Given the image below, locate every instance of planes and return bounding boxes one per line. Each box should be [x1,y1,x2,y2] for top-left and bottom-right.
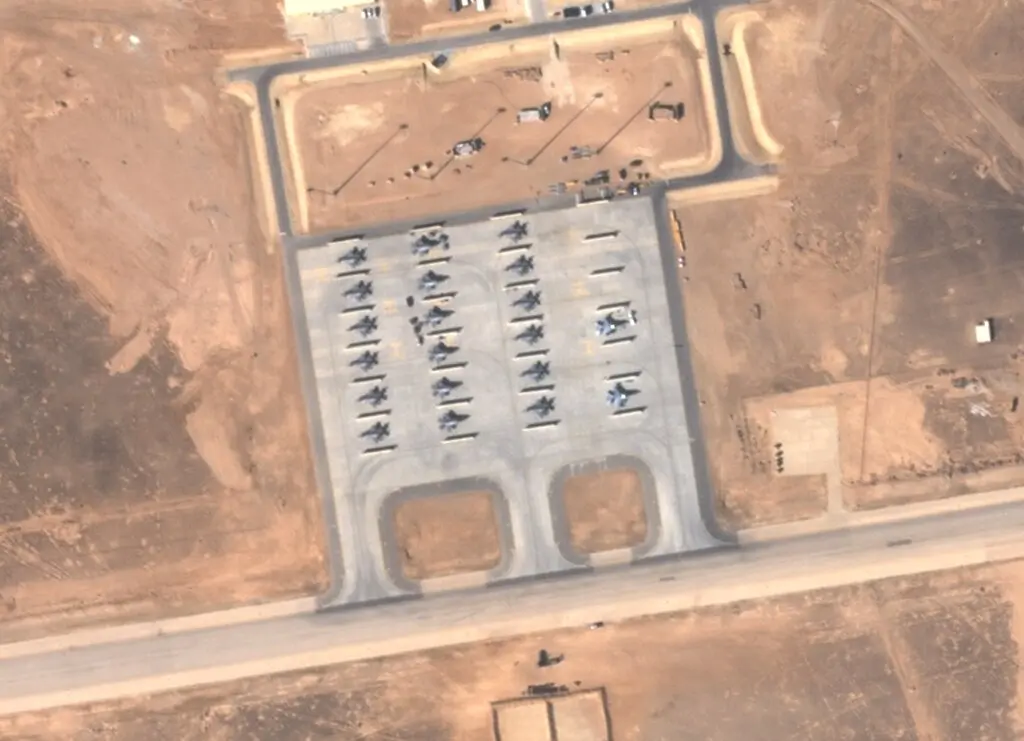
[412,237,437,256]
[426,308,451,327]
[360,424,386,443]
[348,317,372,335]
[440,413,466,431]
[504,258,530,277]
[357,389,382,407]
[433,379,459,398]
[514,328,539,346]
[342,282,368,301]
[511,294,535,312]
[608,388,637,408]
[498,223,524,242]
[523,400,549,419]
[596,318,624,338]
[419,274,444,292]
[351,353,375,371]
[338,249,363,267]
[429,345,455,363]
[519,364,545,382]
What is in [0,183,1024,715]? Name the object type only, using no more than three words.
airport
